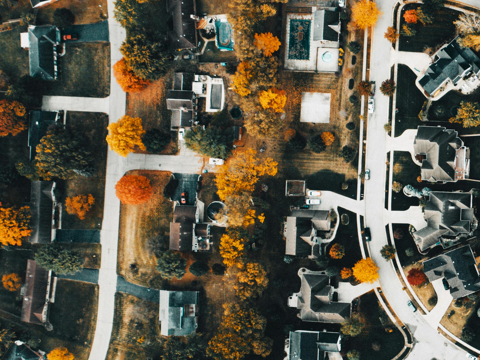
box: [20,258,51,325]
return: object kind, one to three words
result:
house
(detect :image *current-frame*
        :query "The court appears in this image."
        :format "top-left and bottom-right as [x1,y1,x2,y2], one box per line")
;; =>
[300,92,330,122]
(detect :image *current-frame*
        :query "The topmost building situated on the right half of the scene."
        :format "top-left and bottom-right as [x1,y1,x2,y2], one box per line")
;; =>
[314,7,342,43]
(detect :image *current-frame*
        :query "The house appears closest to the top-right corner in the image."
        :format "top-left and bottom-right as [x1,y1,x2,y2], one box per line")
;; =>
[418,36,480,95]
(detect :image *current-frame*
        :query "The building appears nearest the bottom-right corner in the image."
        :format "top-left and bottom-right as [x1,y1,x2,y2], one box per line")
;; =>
[419,235,480,296]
